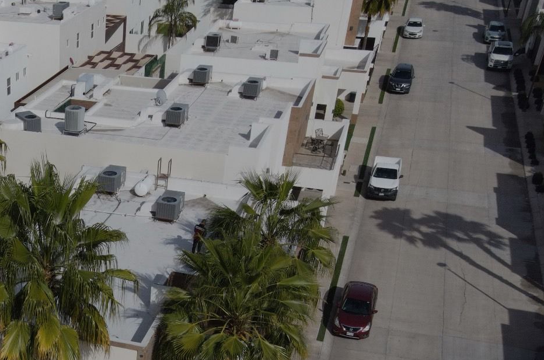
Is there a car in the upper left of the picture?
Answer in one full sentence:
No, no car can be made out in the upper left of the picture.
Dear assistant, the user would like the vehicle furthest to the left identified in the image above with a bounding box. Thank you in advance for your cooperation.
[336,285,379,339]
